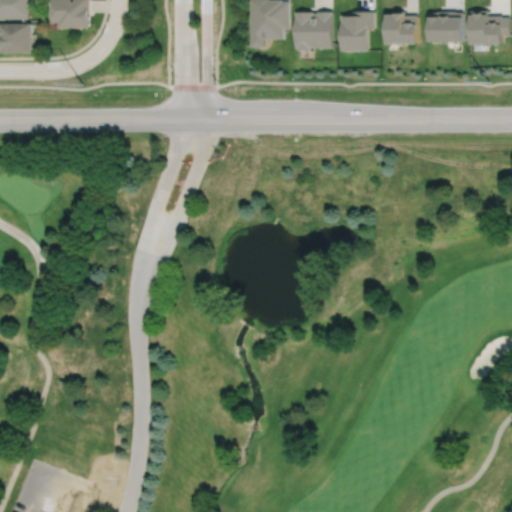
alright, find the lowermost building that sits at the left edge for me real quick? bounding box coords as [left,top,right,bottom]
[0,22,32,54]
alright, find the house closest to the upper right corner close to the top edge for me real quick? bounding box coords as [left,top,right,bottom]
[466,14,512,46]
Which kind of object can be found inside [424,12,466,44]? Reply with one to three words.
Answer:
house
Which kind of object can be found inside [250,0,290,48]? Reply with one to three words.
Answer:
house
